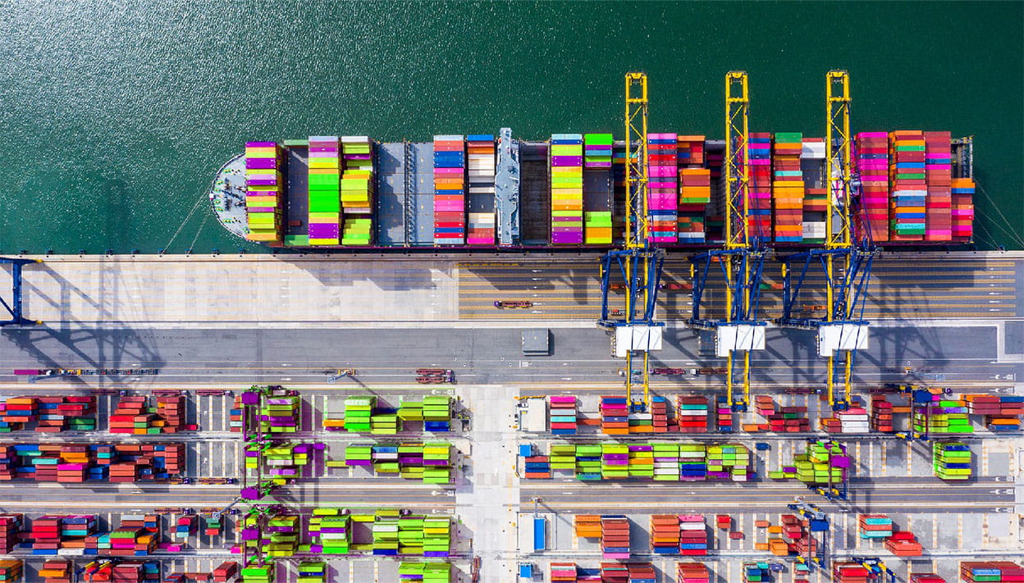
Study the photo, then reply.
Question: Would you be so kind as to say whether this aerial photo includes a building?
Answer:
Yes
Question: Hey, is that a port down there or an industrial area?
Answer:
port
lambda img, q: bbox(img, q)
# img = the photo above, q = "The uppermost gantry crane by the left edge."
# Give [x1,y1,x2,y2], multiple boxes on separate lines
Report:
[0,257,44,329]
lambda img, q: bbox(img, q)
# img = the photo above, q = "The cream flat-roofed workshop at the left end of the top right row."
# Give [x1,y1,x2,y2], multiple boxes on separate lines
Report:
[519,398,546,431]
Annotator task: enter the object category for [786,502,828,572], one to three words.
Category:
container crane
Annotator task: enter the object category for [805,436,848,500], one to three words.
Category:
container crane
